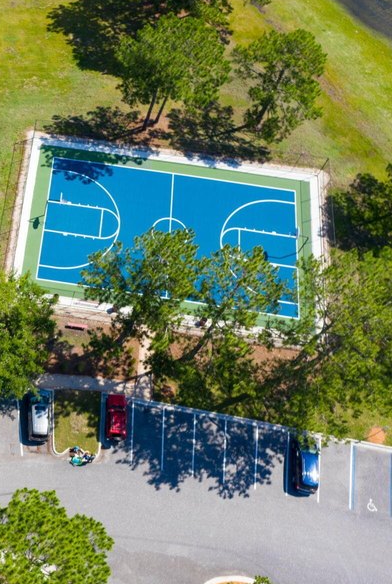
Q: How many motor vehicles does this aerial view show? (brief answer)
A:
three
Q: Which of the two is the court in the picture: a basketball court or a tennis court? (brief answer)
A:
basketball court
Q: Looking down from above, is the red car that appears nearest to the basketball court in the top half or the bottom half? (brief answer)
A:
bottom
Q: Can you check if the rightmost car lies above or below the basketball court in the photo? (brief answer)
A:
below it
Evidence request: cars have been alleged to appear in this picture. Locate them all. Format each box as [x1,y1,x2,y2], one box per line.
[105,395,130,446]
[28,392,55,446]
[294,441,324,500]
